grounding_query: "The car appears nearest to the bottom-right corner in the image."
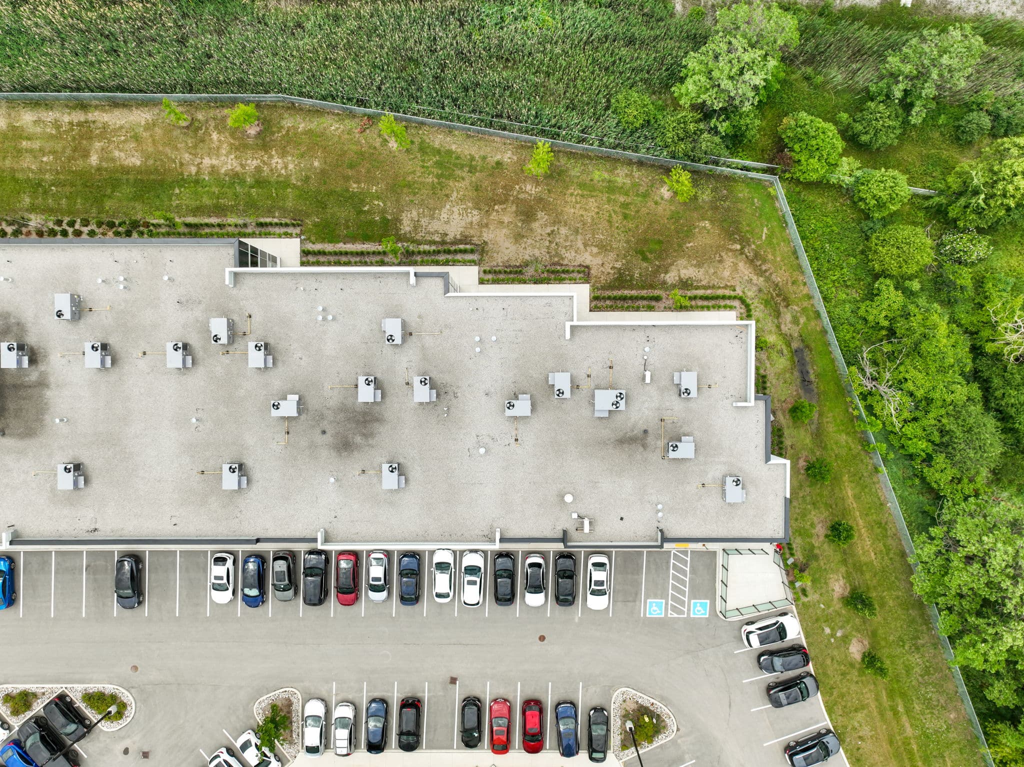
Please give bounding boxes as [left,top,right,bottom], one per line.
[785,730,841,767]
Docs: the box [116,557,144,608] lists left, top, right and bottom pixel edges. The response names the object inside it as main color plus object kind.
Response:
gray car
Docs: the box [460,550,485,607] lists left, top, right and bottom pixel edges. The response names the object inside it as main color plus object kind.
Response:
white car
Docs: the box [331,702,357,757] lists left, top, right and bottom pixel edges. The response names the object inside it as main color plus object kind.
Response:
white car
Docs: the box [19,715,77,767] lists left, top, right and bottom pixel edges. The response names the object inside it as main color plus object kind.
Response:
gray truck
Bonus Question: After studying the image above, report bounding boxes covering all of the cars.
[397,698,422,751]
[331,702,357,757]
[785,730,841,767]
[270,551,298,602]
[742,616,798,648]
[116,557,144,608]
[766,674,819,707]
[587,707,611,763]
[492,552,517,607]
[396,552,421,606]
[460,550,485,607]
[587,555,611,609]
[554,552,579,607]
[0,557,17,609]
[758,643,811,676]
[521,700,545,753]
[459,697,483,747]
[365,551,390,602]
[43,694,91,741]
[523,554,547,606]
[236,727,281,767]
[555,701,580,758]
[240,556,266,607]
[431,549,456,604]
[208,553,235,603]
[302,550,328,607]
[364,699,389,754]
[334,552,360,606]
[302,699,328,757]
[488,699,512,755]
